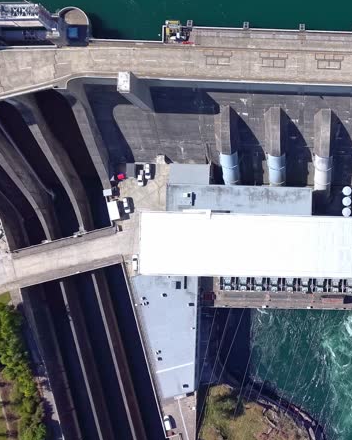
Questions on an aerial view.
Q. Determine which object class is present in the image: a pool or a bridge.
bridge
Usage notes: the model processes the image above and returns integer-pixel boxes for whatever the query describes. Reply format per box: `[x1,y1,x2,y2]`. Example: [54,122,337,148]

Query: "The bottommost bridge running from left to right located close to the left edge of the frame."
[11,225,125,289]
